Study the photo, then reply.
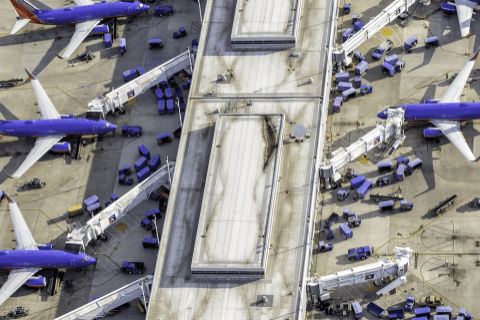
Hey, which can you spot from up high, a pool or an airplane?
airplane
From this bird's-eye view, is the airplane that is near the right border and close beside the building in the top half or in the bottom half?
top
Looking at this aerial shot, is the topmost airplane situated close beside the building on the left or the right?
left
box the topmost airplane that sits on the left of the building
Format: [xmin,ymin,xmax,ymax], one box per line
[9,0,150,61]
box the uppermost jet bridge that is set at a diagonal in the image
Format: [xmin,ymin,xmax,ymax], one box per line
[330,0,427,72]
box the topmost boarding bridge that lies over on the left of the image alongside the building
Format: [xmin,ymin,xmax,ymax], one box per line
[88,46,203,118]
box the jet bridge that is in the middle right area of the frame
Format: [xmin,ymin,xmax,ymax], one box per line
[318,113,407,196]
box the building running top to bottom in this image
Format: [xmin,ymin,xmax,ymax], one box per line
[148,0,339,320]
